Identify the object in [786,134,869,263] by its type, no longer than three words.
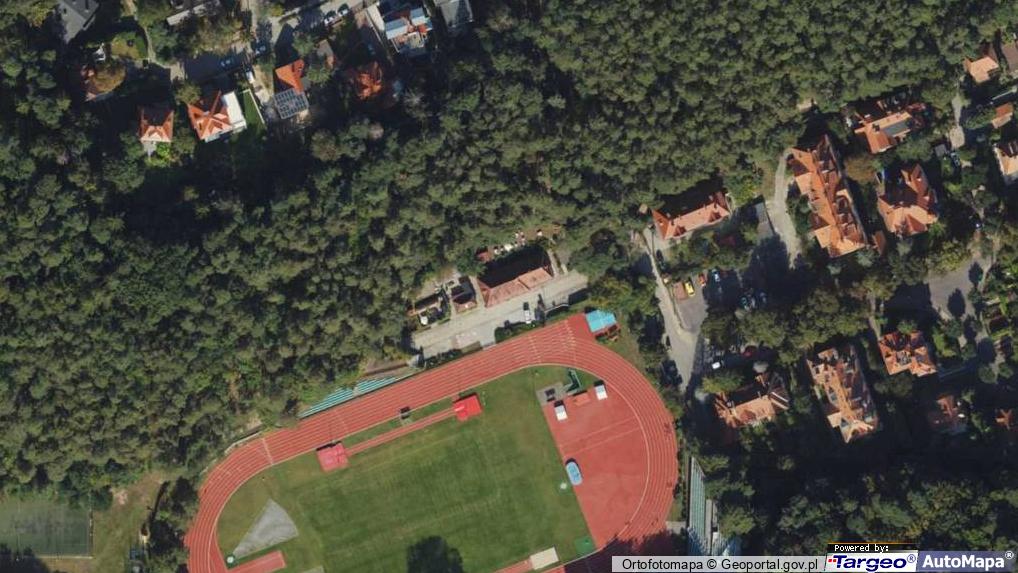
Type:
house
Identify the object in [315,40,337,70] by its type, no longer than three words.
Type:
building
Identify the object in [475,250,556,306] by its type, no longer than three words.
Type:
house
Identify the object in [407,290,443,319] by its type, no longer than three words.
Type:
shed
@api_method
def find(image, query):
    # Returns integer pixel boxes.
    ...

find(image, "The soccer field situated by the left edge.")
[0,499,90,556]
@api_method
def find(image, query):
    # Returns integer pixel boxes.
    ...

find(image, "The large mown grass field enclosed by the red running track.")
[211,364,601,573]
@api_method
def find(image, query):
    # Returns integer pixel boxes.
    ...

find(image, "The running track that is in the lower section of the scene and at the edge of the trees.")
[182,312,680,573]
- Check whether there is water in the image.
No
